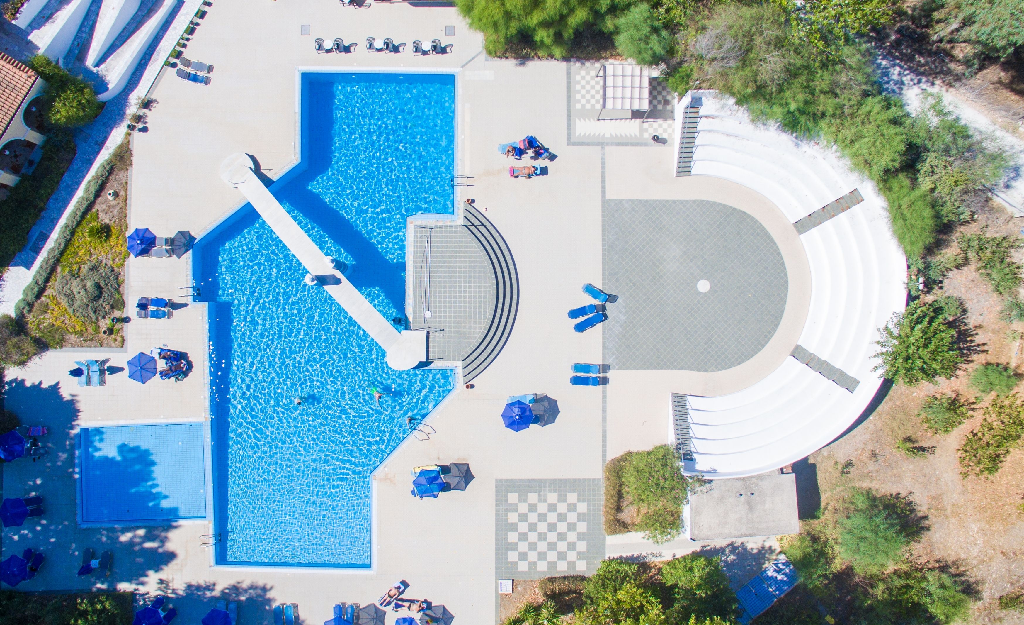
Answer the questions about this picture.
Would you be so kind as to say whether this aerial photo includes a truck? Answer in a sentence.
No, the frame has no truck in it.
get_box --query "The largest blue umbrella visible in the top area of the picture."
[127,227,160,258]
